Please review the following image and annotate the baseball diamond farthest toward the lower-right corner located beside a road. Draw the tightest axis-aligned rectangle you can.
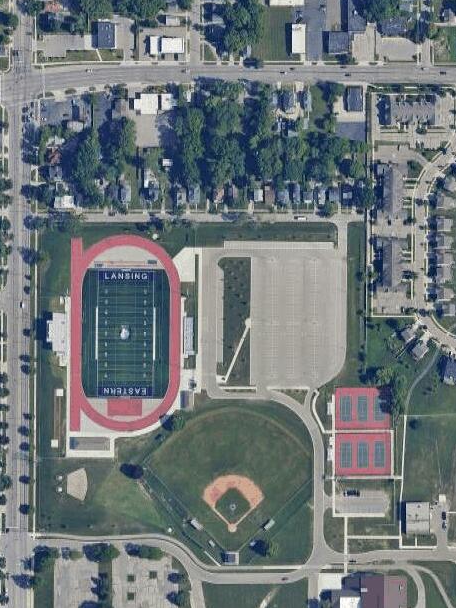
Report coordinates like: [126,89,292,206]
[149,406,311,553]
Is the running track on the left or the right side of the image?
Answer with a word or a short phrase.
left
